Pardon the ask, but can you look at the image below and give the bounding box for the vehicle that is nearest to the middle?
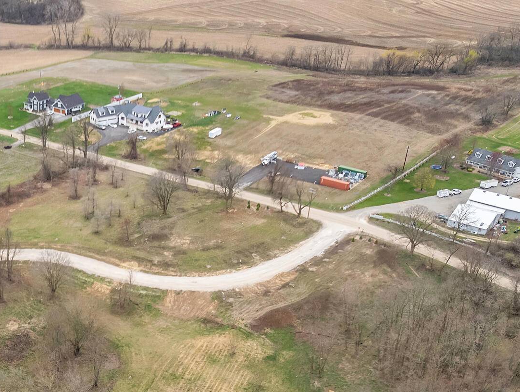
[262,149,278,163]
